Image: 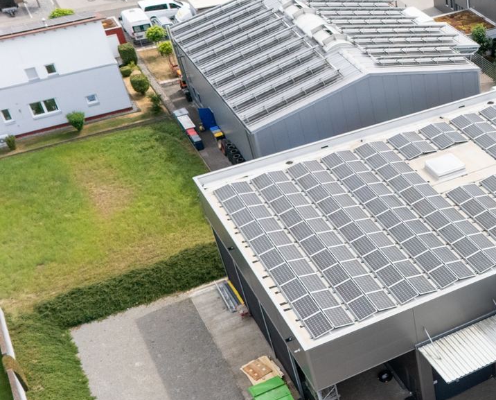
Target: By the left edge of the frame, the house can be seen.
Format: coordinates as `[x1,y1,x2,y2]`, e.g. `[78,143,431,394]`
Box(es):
[0,5,131,138]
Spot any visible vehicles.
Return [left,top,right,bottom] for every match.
[139,0,186,21]
[167,56,190,94]
[119,8,148,43]
[154,17,177,36]
[0,0,29,17]
[175,3,201,23]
